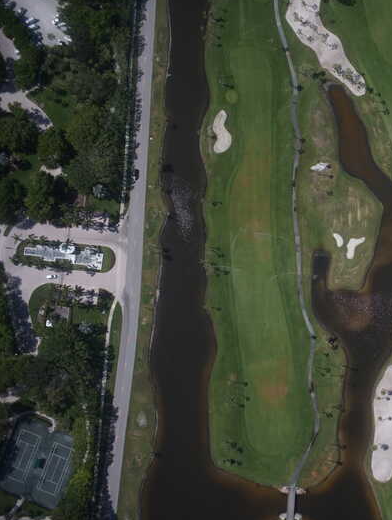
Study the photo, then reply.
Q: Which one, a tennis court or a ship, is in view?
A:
tennis court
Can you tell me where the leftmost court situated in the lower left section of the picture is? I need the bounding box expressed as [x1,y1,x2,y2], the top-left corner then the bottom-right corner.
[0,420,49,493]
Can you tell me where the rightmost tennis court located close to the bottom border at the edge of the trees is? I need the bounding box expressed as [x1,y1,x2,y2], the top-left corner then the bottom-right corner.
[30,432,80,506]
